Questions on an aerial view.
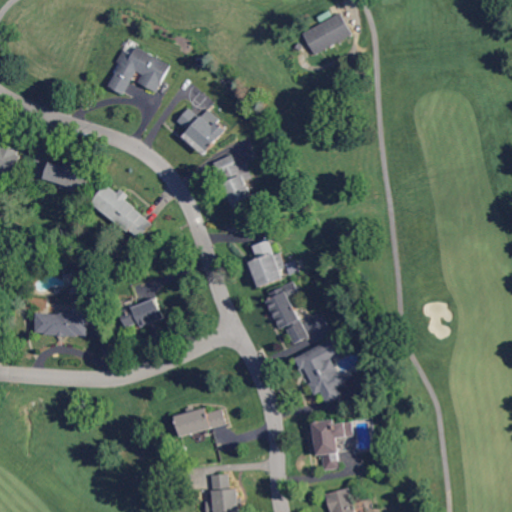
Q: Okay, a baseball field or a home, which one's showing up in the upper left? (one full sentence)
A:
There is a home in the upper left.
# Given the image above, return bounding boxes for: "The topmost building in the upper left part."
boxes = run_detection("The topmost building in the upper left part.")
[108,48,170,94]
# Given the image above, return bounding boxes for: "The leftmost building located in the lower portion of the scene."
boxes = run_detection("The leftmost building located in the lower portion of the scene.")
[33,313,88,337]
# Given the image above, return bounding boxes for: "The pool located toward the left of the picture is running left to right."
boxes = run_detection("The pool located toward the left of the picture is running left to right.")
[34,278,64,291]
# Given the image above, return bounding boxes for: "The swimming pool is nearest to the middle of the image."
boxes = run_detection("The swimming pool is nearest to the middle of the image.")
[338,356,358,371]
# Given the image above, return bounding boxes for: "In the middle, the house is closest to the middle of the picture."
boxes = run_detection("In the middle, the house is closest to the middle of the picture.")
[248,238,286,287]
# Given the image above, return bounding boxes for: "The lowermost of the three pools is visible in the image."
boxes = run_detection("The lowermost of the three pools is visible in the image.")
[355,423,370,450]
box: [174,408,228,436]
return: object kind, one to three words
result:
house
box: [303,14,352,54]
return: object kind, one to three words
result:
building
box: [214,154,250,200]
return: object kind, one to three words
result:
house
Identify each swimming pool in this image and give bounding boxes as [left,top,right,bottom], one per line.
[355,423,370,450]
[338,356,358,371]
[34,278,64,291]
